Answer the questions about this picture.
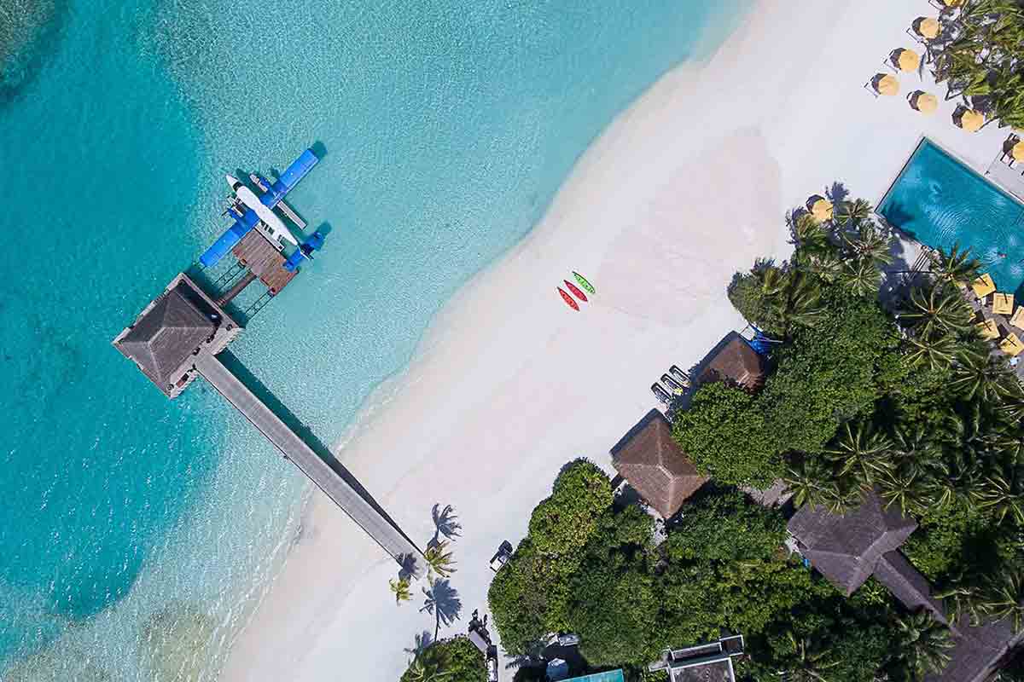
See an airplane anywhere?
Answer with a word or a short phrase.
Yes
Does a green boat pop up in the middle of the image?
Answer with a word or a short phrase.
Yes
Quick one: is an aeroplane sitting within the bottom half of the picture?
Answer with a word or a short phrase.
No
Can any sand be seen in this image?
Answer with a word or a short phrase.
Yes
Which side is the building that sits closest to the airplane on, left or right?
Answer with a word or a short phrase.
left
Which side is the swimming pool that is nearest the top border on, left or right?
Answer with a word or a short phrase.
right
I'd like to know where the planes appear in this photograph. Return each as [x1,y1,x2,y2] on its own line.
[200,150,326,276]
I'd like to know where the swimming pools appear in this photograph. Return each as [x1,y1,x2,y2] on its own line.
[870,133,1024,305]
[557,668,625,682]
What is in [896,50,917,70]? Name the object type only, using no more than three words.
umbrella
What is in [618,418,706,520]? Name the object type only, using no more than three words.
shed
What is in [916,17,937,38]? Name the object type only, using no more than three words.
umbrella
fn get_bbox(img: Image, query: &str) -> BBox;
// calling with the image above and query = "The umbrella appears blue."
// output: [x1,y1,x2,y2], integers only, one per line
[546,657,570,682]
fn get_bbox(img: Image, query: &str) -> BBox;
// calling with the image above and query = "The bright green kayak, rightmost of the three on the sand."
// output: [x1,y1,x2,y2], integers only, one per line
[573,272,595,293]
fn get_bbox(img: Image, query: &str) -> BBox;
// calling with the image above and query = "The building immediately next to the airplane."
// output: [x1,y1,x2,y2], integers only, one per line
[109,272,245,400]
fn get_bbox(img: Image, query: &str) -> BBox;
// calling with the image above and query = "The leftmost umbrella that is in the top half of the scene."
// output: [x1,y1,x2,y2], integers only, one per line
[812,200,832,221]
